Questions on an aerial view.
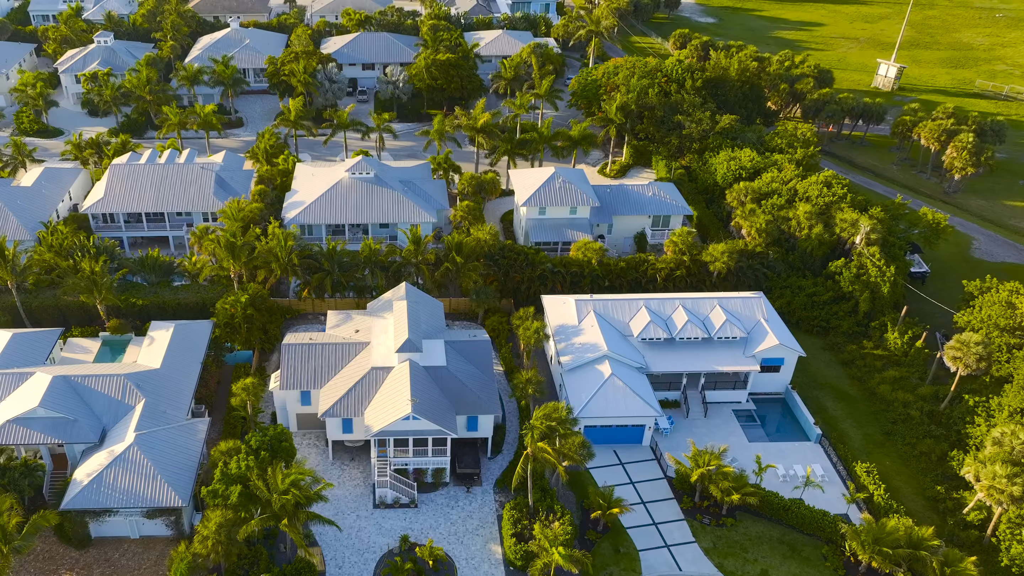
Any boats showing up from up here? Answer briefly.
Yes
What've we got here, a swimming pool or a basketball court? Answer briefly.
swimming pool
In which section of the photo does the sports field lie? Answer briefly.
top right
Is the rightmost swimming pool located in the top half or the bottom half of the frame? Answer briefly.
bottom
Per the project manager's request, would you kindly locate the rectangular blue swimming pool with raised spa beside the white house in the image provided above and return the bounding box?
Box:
[732,383,821,444]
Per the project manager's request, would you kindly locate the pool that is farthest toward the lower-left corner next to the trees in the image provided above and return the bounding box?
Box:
[93,339,131,364]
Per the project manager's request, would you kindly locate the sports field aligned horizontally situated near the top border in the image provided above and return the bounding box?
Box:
[618,0,1024,154]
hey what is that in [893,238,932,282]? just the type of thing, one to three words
boat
